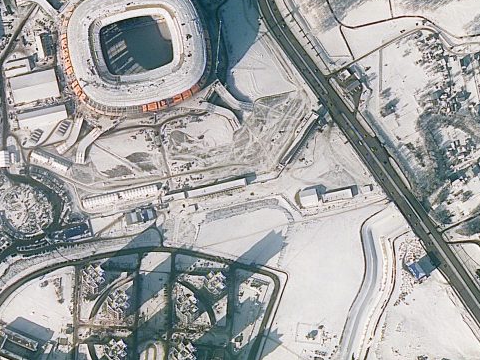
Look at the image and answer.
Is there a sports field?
Yes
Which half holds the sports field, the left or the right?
left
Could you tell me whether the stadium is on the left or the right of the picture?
left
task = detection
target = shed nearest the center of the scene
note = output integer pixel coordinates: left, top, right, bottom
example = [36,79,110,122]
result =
[188,178,246,198]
